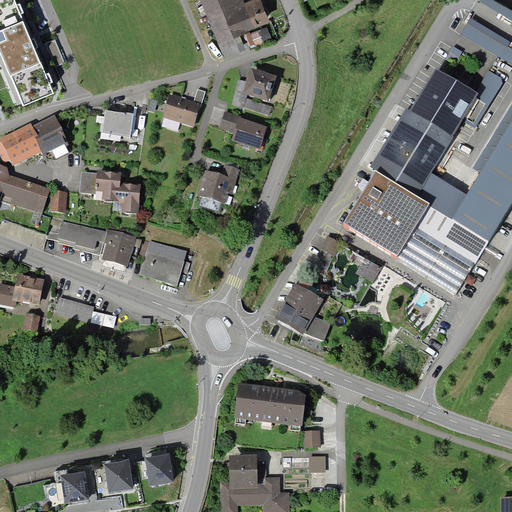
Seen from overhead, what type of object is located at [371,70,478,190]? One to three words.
building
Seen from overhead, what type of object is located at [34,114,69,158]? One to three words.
house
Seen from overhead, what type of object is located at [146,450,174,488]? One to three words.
house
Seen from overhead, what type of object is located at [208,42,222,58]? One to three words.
vehicle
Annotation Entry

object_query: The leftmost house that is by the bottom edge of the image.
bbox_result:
[56,471,90,504]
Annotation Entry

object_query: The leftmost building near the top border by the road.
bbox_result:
[0,0,54,107]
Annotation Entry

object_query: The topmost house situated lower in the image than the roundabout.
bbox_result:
[234,382,306,432]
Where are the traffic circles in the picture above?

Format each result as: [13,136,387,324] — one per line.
[186,296,256,383]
